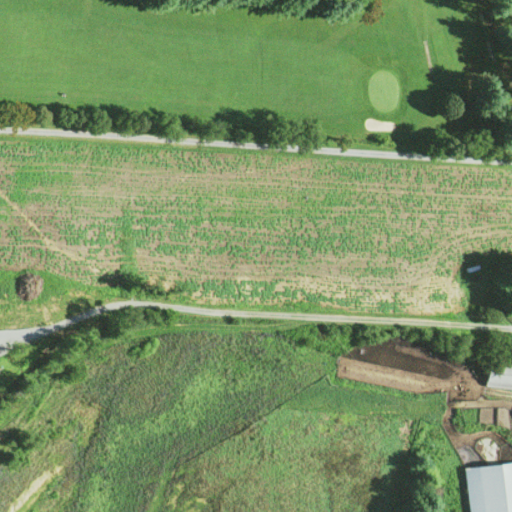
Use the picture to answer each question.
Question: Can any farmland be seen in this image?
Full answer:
Yes, farmland can be seen from above here.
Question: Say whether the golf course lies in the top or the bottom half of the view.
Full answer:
Seen from above, the golf course lies in the top half of the view.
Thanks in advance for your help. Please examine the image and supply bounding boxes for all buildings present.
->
[480,408,494,424]
[466,465,512,512]
[486,370,512,392]
[498,408,510,428]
